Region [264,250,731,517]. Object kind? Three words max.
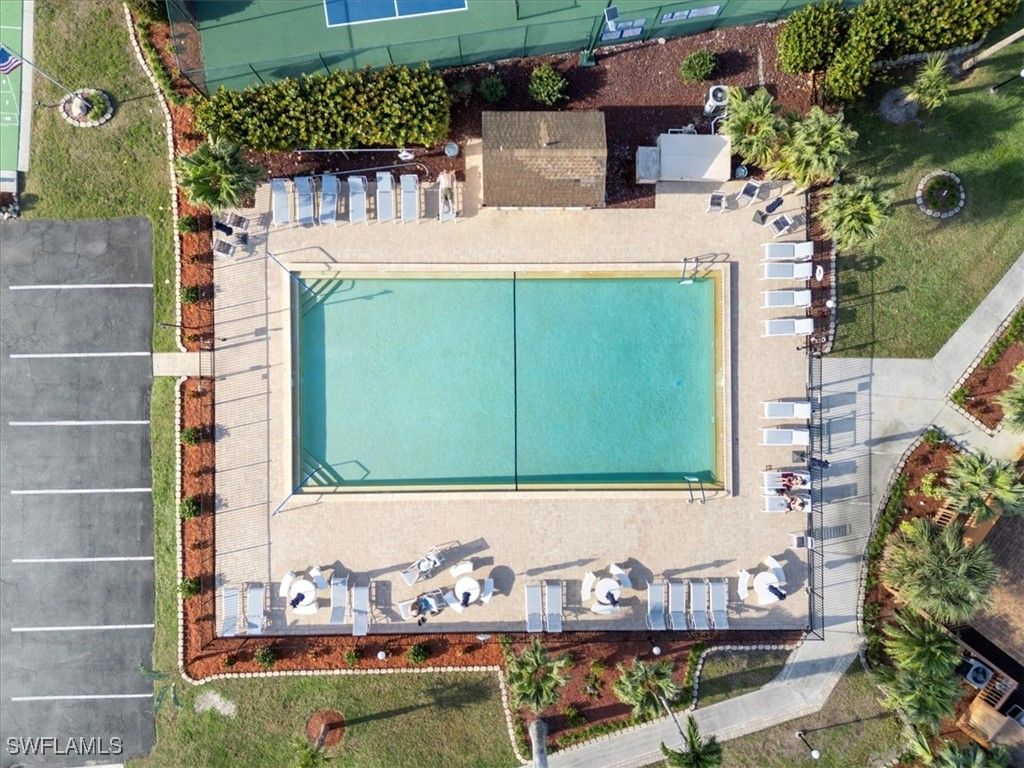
swimming pool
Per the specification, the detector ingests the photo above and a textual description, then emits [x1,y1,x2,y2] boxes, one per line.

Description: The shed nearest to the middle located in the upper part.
[481,111,610,210]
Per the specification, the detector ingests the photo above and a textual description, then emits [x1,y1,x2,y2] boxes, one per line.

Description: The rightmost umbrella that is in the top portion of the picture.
[752,199,784,226]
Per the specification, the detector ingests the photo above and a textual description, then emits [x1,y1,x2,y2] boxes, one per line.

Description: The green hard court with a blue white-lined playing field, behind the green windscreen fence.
[196,0,858,93]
